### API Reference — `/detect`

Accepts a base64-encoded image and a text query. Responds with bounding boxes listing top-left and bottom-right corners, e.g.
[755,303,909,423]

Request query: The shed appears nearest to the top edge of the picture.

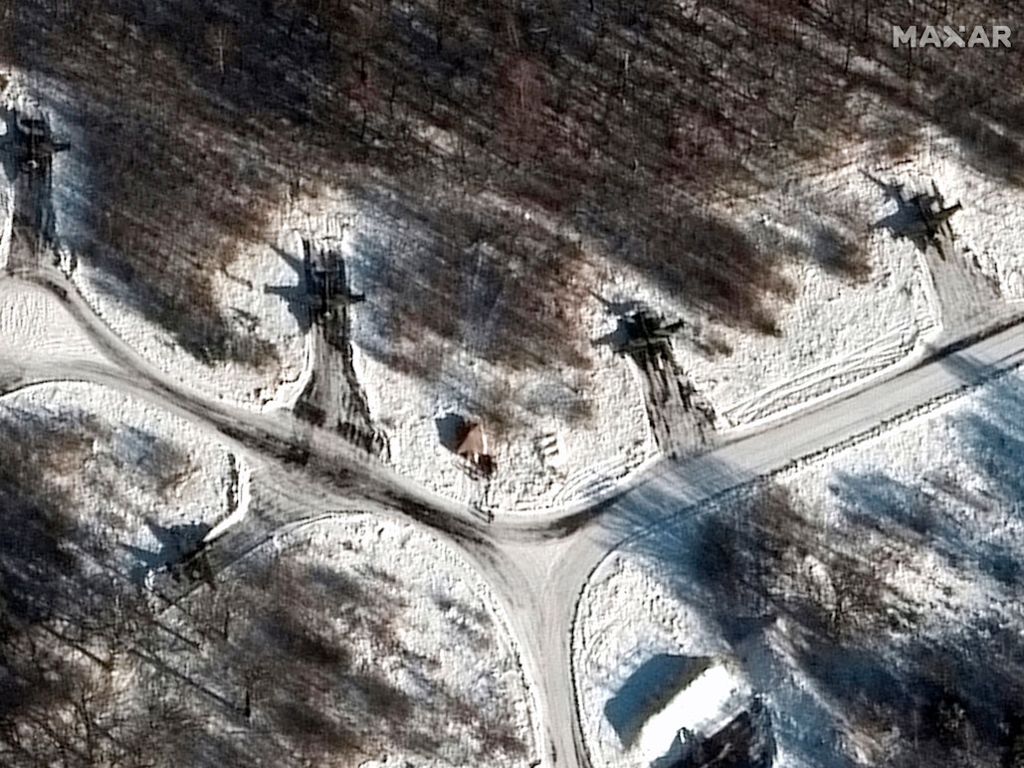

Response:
[458,420,488,471]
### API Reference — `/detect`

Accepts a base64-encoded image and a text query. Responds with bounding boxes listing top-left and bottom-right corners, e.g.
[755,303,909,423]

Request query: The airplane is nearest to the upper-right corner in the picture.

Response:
[881,179,961,251]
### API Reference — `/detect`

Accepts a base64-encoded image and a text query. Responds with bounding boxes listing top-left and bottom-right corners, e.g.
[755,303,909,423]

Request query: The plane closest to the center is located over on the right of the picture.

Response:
[605,295,686,371]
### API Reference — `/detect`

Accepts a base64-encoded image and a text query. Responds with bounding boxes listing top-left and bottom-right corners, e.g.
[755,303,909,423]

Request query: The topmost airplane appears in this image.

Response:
[0,110,74,184]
